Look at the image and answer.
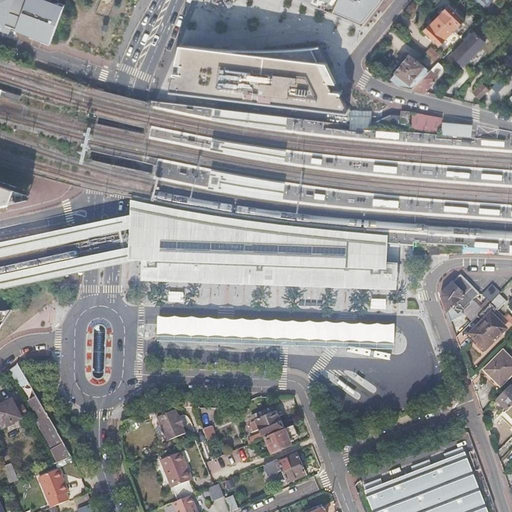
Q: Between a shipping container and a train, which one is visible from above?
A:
train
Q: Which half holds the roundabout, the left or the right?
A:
left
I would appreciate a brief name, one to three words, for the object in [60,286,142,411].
roundabout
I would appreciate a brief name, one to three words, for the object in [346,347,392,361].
vehicle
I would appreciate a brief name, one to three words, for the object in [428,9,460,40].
house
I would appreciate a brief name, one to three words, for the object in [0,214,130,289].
train station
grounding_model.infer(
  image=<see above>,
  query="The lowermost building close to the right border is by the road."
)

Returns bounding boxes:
[364,451,489,512]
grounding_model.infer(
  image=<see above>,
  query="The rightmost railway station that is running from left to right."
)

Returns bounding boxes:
[130,200,398,290]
